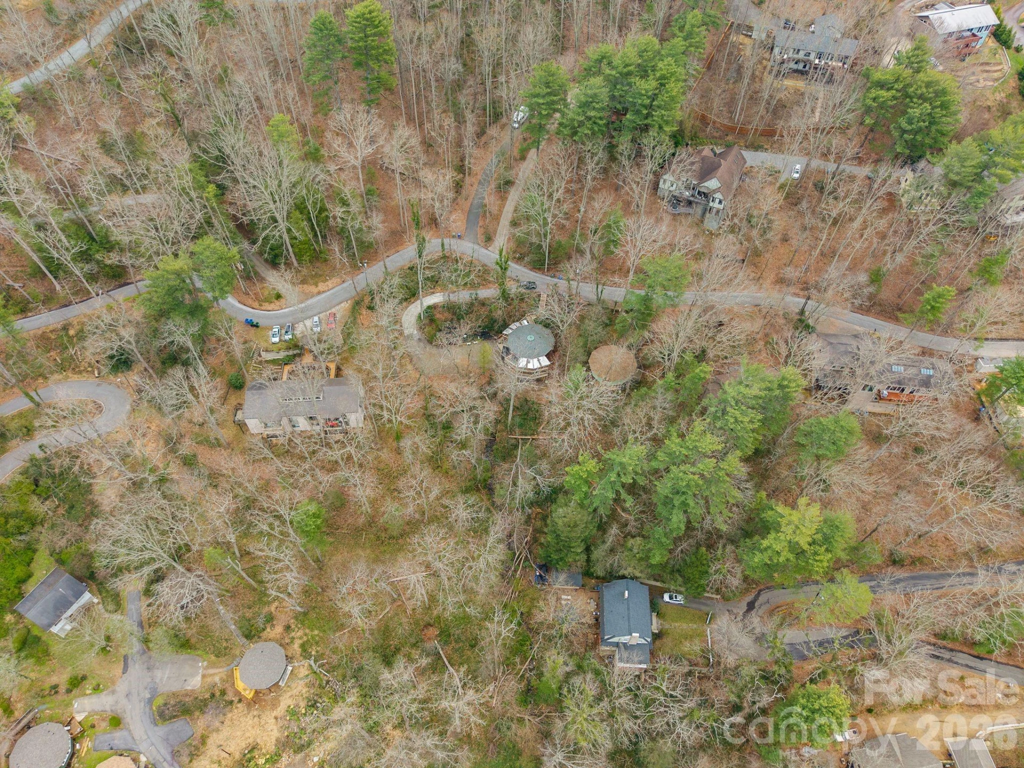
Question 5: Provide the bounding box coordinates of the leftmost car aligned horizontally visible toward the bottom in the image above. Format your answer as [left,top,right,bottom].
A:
[662,591,686,604]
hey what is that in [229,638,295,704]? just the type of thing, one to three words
house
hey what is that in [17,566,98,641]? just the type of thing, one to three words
house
